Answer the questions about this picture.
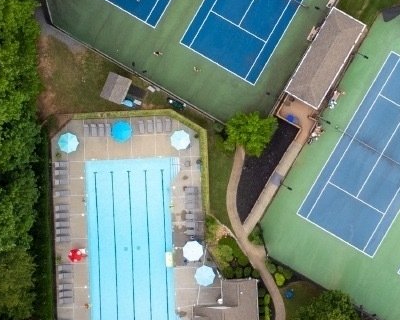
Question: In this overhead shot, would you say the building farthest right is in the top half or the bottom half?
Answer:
top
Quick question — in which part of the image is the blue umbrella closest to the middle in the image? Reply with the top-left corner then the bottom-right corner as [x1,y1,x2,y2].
[111,119,134,142]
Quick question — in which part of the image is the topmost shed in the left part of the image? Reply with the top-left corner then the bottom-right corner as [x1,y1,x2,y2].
[100,73,135,104]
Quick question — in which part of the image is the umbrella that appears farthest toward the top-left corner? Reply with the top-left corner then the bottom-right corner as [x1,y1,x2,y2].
[58,131,80,153]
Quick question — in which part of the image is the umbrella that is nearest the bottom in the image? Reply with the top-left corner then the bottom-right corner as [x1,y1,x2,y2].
[195,264,216,285]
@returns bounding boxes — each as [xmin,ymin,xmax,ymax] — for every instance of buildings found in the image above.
[285,8,367,109]
[191,279,261,320]
[100,73,135,104]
